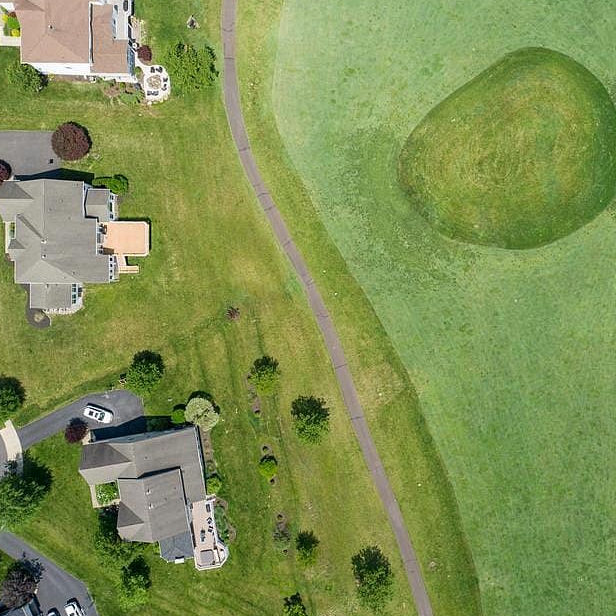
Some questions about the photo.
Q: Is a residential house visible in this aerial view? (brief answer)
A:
Yes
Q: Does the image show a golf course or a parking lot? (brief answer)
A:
golf course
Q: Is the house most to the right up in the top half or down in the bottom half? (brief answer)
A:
bottom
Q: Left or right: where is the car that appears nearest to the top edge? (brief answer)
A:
left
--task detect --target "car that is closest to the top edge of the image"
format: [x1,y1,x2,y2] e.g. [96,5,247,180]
[83,404,114,424]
